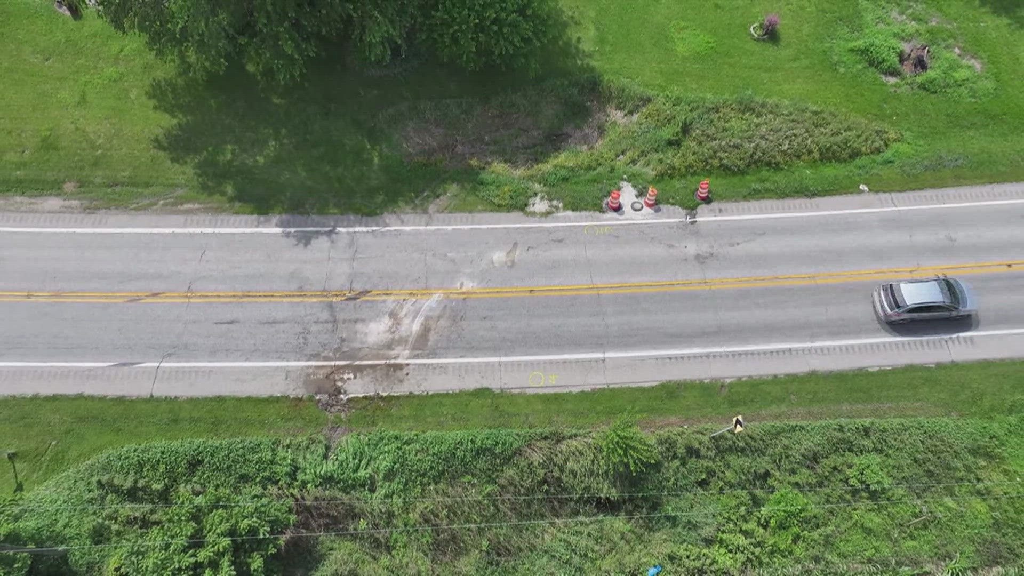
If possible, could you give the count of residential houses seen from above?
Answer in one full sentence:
There are no residential houses in this view.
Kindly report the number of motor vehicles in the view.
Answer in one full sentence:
There is 1 motor vehicle in the image.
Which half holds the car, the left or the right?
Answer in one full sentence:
The car sits on the right side.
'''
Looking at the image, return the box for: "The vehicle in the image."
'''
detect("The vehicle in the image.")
[874,273,982,323]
